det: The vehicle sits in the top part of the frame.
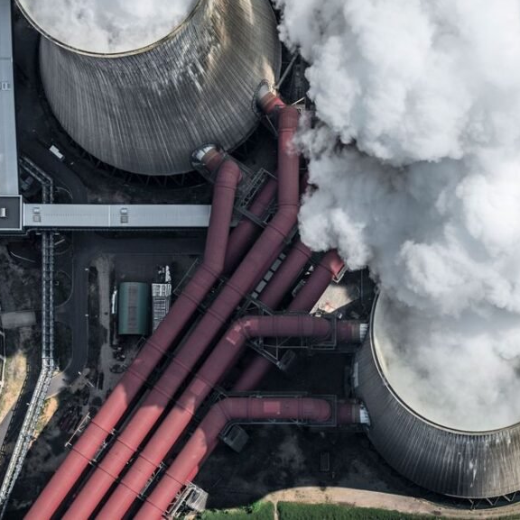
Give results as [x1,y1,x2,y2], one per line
[50,145,64,160]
